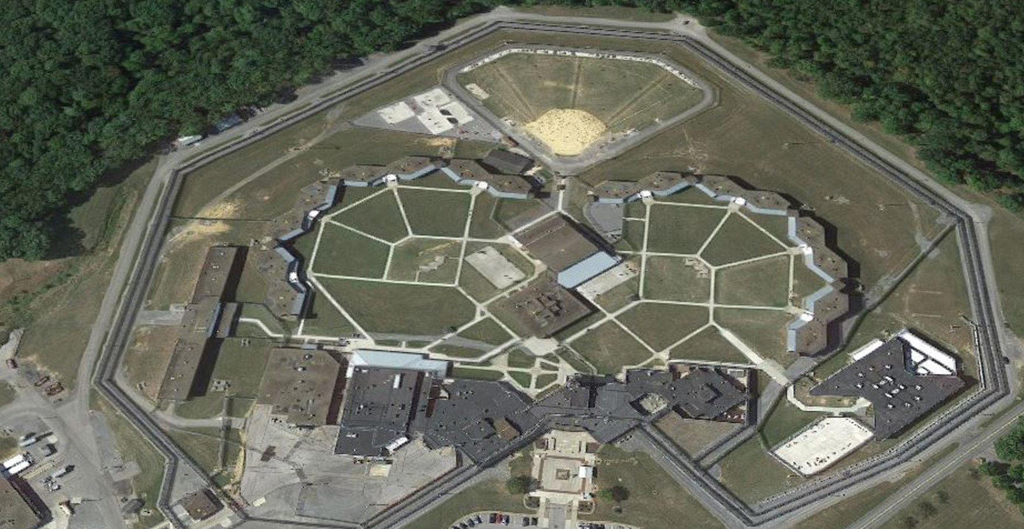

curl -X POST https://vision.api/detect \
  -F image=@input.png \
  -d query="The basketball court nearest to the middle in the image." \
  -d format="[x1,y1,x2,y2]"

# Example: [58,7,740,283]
[466,246,526,289]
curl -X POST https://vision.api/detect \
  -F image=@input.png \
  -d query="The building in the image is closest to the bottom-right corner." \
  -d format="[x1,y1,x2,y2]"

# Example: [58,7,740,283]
[809,333,965,447]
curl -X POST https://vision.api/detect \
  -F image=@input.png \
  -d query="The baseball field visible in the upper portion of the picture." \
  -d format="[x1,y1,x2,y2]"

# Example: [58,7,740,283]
[454,49,704,158]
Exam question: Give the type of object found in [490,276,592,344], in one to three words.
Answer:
building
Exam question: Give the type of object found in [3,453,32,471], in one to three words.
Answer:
vehicle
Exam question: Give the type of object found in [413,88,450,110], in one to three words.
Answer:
basketball court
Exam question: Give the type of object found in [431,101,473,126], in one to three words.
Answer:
basketball court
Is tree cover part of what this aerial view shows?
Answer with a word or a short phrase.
Yes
